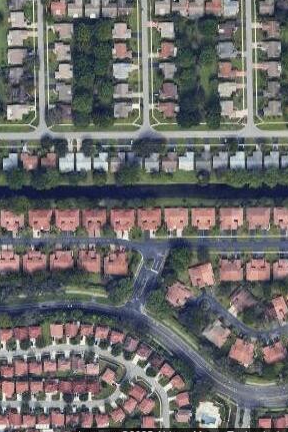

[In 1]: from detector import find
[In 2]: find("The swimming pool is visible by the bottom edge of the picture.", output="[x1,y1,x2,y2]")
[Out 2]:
[196,402,220,427]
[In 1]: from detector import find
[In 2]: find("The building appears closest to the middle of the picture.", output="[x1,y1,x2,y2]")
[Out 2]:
[139,209,162,231]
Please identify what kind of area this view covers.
residential area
